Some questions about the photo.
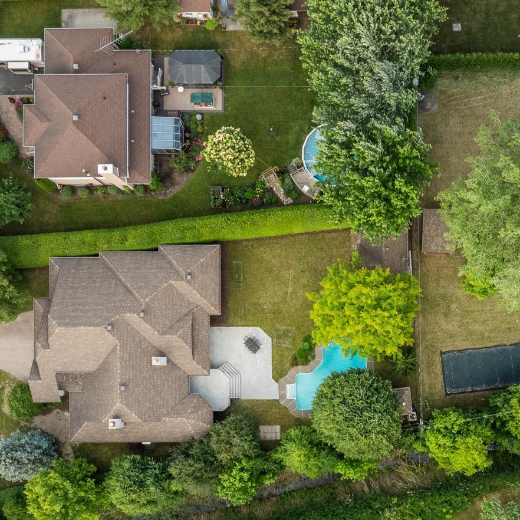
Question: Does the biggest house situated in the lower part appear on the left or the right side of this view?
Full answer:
The biggest house situated in the lower part appears in the left half of the scene.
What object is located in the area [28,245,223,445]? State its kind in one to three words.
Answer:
house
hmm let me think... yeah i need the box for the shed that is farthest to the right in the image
[422,208,454,254]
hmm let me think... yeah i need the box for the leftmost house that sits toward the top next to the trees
[22,28,156,190]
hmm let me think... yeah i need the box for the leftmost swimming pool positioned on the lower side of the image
[279,337,374,418]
